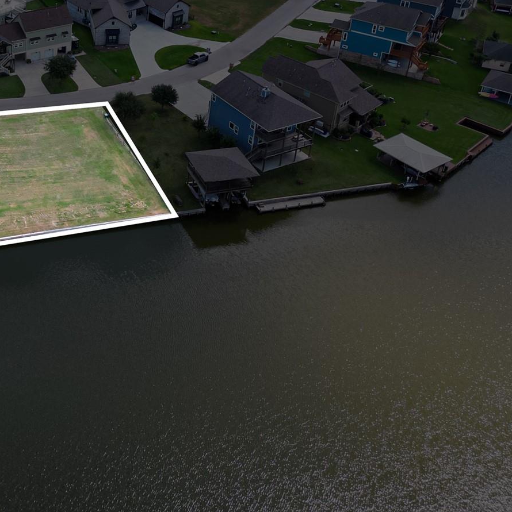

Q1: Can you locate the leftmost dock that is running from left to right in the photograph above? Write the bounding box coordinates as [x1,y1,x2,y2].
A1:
[253,196,326,215]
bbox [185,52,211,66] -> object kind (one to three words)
vehicle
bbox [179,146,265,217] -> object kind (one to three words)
building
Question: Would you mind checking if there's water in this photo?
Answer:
Yes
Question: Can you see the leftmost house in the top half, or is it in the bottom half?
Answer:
top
